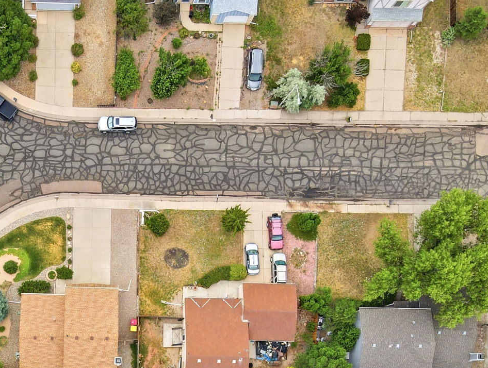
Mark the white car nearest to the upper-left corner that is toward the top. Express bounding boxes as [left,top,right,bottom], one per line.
[97,113,138,134]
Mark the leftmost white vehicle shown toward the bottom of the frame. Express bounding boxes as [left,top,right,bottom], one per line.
[241,242,260,276]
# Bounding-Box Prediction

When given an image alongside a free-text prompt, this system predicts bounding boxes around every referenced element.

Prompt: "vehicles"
[97,113,138,134]
[268,252,288,283]
[241,242,260,276]
[0,96,22,124]
[266,211,285,252]
[245,47,265,92]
